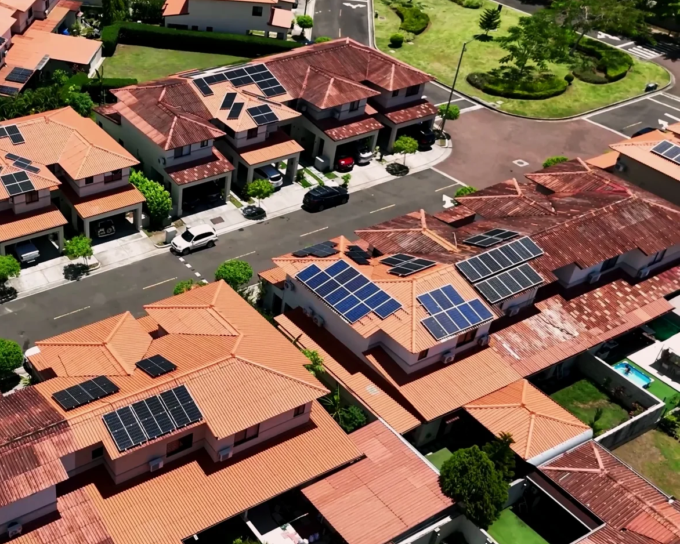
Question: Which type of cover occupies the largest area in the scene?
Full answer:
Most of the picture is covered by buildings.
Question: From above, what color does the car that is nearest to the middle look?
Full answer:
The car that is nearest to the middle looks black in the image.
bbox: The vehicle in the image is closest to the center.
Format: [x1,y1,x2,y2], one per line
[298,178,354,211]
